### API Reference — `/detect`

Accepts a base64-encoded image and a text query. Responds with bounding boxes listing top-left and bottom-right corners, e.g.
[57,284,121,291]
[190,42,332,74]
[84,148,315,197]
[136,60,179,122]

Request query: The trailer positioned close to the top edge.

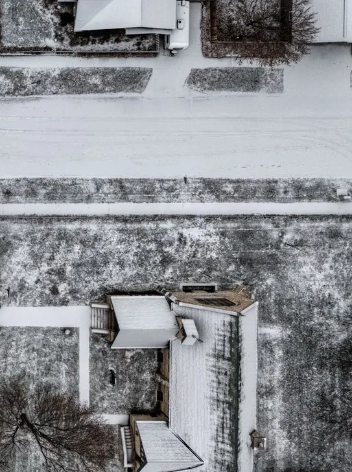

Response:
[159,0,188,64]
